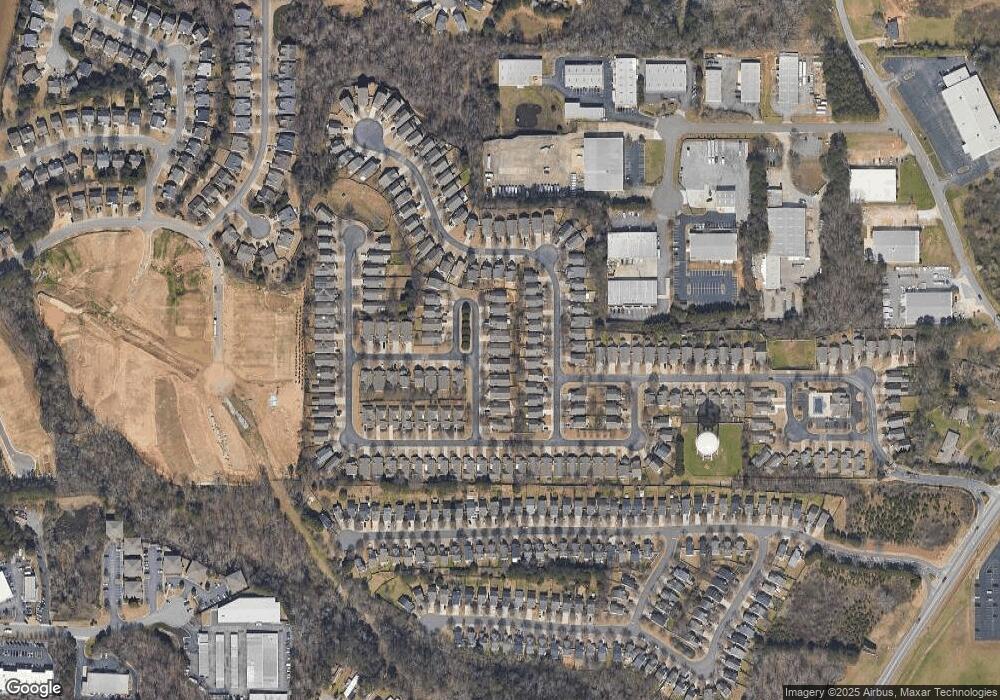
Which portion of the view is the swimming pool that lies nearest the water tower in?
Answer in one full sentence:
The swimming pool that lies nearest the water tower appears toward the right of the photo.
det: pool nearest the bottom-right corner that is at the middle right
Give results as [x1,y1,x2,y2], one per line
[809,393,831,417]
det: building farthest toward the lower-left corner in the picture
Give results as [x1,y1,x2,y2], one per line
[0,669,54,698]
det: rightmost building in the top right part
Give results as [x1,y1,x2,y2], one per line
[940,67,1000,160]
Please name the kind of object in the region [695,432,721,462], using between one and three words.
water tower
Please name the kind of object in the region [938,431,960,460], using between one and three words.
house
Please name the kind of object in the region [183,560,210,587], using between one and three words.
building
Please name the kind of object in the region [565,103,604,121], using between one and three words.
shed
